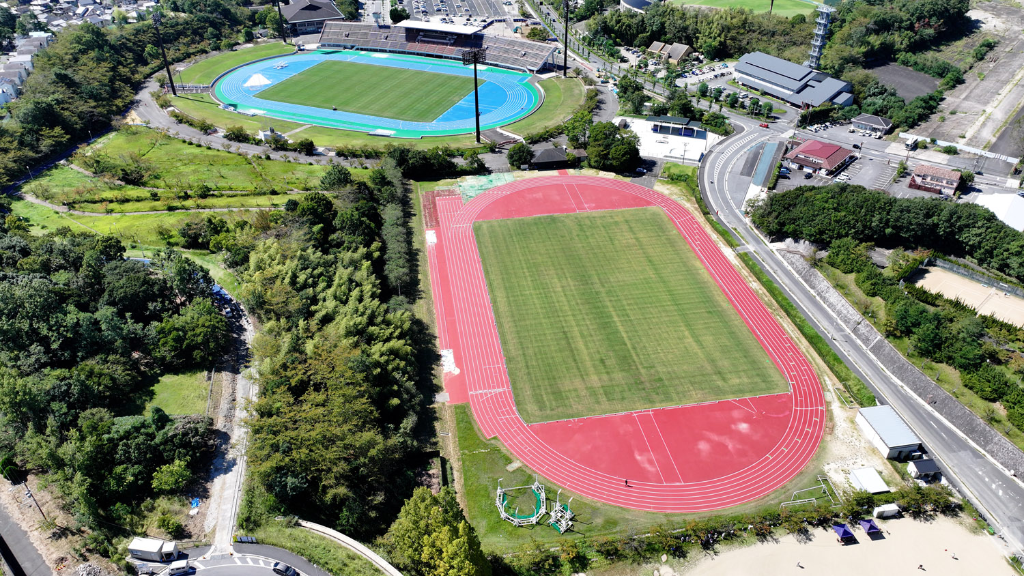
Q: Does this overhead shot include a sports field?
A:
Yes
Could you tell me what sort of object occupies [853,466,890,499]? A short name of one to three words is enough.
shed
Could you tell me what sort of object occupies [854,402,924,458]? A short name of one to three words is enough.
shed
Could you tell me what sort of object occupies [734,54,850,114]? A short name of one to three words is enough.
building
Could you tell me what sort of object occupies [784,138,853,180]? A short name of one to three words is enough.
building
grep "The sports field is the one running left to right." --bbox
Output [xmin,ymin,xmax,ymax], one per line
[254,60,485,122]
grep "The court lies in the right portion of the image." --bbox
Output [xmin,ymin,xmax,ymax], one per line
[904,266,1024,326]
